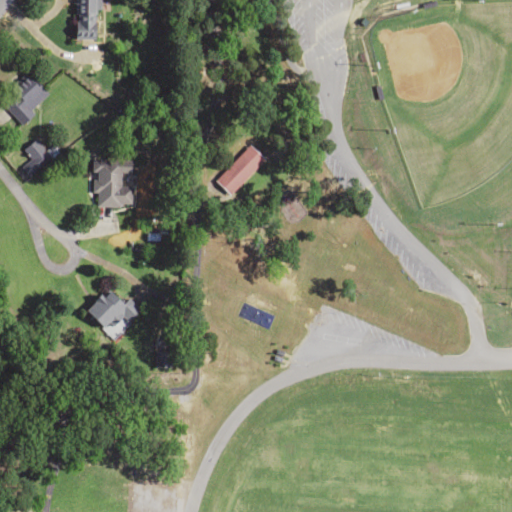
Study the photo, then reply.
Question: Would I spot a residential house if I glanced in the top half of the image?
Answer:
Yes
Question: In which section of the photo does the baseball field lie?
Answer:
top right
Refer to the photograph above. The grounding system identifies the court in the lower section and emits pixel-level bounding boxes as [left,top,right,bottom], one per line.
[239,304,274,329]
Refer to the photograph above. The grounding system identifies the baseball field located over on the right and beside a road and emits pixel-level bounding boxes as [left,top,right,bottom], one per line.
[365,4,512,208]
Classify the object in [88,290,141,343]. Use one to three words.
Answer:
house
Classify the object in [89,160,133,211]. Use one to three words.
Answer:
house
